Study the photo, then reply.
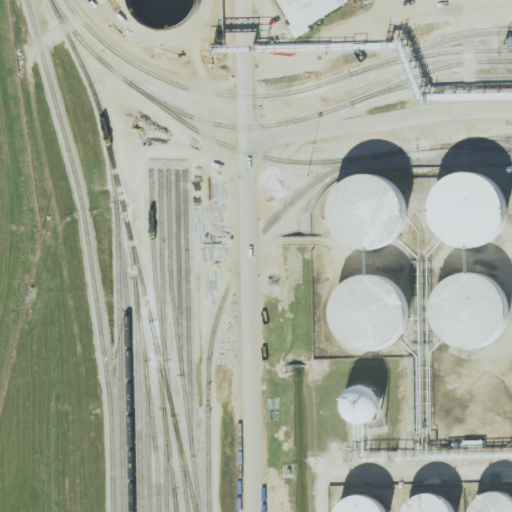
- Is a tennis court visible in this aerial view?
No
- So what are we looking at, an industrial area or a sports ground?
industrial area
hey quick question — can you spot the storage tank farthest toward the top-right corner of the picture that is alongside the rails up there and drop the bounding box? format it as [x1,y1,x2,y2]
[426,170,508,250]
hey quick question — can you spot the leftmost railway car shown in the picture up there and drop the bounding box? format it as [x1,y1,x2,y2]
[99,111,112,147]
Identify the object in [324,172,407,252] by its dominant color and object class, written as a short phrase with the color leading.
white storage tank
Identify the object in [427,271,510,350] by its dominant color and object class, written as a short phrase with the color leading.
white storage tank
